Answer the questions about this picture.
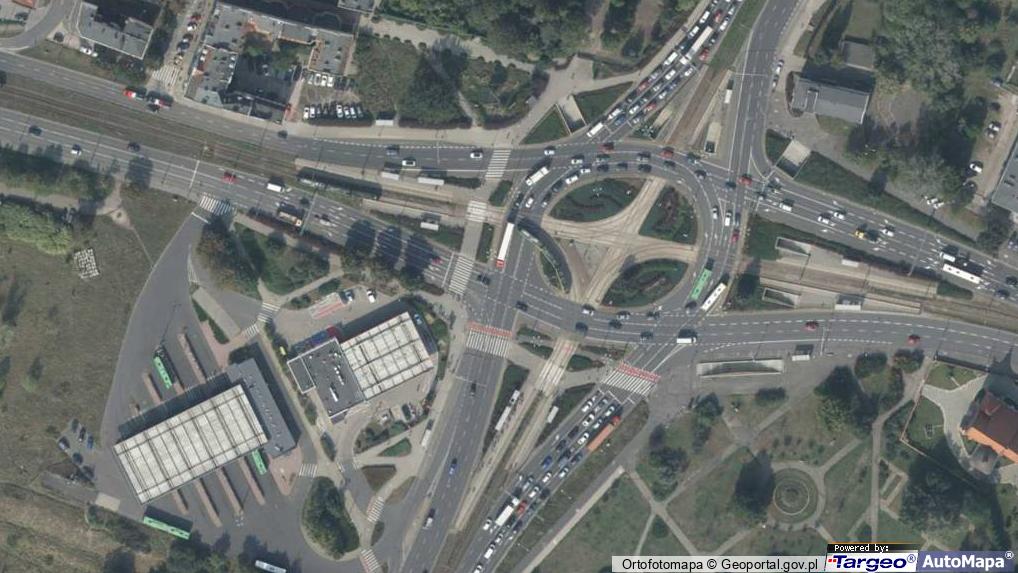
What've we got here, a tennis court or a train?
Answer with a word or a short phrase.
train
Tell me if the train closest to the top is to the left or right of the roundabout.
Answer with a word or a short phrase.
on the left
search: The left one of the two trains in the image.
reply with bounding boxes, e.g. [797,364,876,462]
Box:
[297,176,372,199]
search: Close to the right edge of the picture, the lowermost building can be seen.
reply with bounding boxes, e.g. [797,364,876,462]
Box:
[970,390,1018,469]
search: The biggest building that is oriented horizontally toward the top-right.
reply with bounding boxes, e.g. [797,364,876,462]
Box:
[793,75,871,123]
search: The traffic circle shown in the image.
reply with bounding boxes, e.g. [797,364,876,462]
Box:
[502,146,741,341]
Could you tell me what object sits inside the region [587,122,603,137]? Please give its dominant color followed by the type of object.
white vehicle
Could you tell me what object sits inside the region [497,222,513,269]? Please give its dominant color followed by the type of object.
white vehicle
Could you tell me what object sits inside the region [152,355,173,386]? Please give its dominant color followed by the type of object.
green bus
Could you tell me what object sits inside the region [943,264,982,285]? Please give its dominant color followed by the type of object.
white bus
